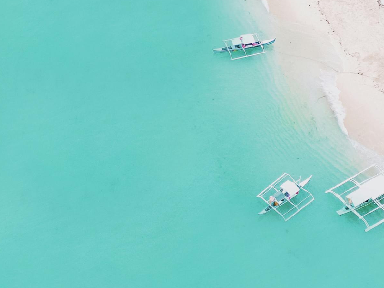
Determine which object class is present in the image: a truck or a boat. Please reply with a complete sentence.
I can see a boat in this picture.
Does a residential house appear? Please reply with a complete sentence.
No, I find no residential house anywhere in the image.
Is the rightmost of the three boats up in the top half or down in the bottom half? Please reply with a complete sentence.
The bottom half of the photo is where the rightmost of the three boats is.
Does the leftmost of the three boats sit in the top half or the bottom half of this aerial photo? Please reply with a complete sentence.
The leftmost of the three boats sits in the top half of the picture.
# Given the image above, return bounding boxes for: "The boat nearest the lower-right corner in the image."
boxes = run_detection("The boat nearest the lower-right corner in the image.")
[325,164,384,231]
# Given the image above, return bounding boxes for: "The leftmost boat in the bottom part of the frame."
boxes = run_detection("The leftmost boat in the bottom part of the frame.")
[257,173,315,221]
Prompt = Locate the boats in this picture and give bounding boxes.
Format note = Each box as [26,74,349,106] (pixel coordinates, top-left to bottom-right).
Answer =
[212,33,276,60]
[325,164,384,231]
[257,173,315,221]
